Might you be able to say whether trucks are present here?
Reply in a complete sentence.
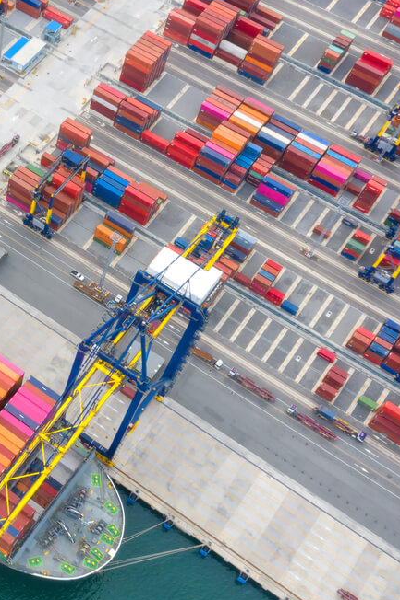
Yes, the picture does show a truck.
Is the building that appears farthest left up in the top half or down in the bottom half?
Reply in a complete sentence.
Seen from above, the building that appears farthest left lies in the top half of the view.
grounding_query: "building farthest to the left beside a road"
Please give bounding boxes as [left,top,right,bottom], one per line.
[0,38,46,79]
